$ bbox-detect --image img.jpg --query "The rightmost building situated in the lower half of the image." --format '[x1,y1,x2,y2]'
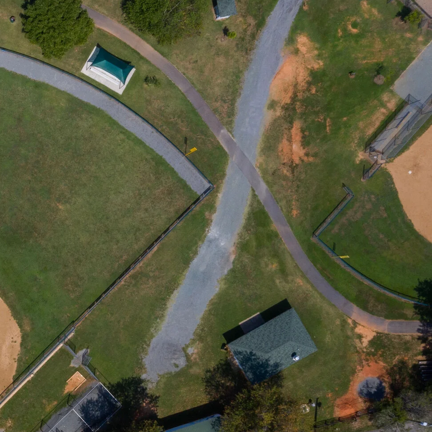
[221,308,318,385]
